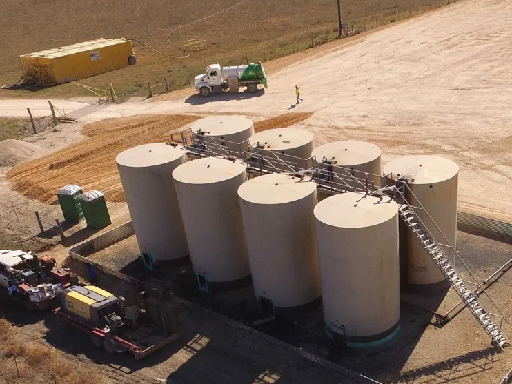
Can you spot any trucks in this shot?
Yes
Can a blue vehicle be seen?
No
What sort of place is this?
industrial area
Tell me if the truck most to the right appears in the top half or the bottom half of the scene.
top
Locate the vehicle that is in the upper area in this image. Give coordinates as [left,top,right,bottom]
[190,57,274,96]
